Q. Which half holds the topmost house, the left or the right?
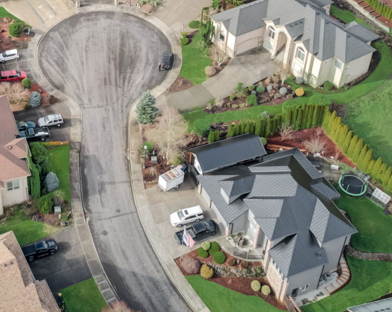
right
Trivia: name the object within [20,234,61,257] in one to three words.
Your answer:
truck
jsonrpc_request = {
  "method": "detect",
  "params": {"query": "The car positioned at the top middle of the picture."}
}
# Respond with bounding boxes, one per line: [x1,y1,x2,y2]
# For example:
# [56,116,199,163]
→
[161,50,173,69]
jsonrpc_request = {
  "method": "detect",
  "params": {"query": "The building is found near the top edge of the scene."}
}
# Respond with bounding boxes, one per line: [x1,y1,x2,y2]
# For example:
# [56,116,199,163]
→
[211,0,380,90]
